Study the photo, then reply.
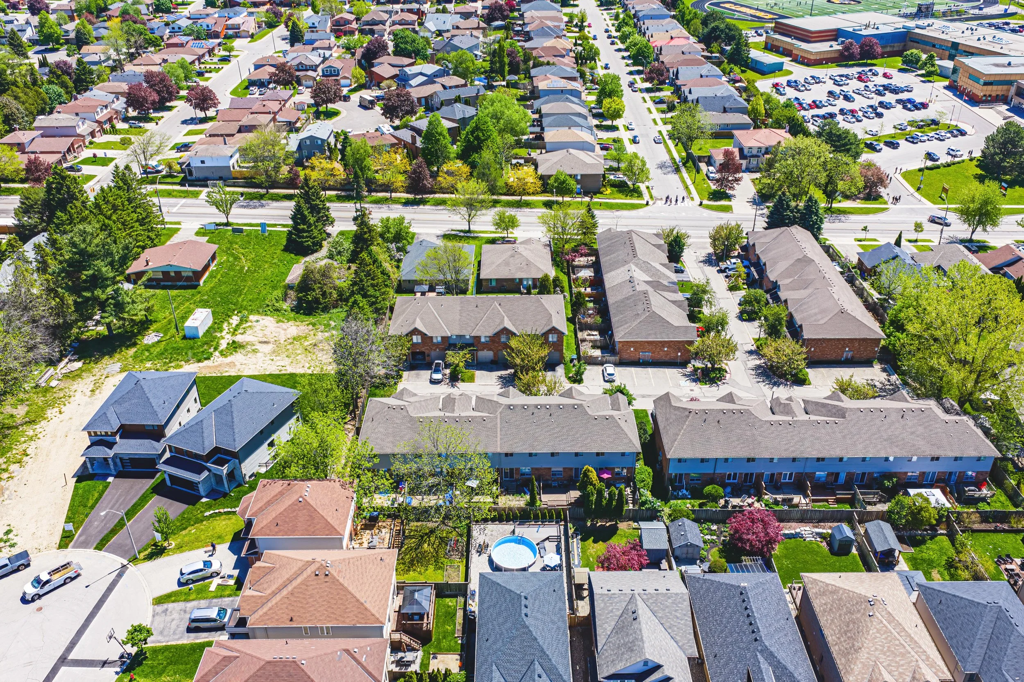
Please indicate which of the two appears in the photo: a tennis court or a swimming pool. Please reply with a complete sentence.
There is a swimming pool in the scene.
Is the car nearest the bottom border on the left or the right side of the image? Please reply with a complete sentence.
The car nearest the bottom border is on the left side of the image.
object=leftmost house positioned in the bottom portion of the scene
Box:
[81,371,196,475]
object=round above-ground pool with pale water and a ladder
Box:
[490,528,539,572]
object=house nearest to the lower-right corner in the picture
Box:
[913,580,1024,682]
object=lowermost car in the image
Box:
[184,609,227,636]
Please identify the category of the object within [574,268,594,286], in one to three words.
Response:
gazebo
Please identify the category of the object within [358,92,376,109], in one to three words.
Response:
camper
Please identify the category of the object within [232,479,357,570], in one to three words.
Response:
house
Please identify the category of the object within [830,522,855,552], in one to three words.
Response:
shed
